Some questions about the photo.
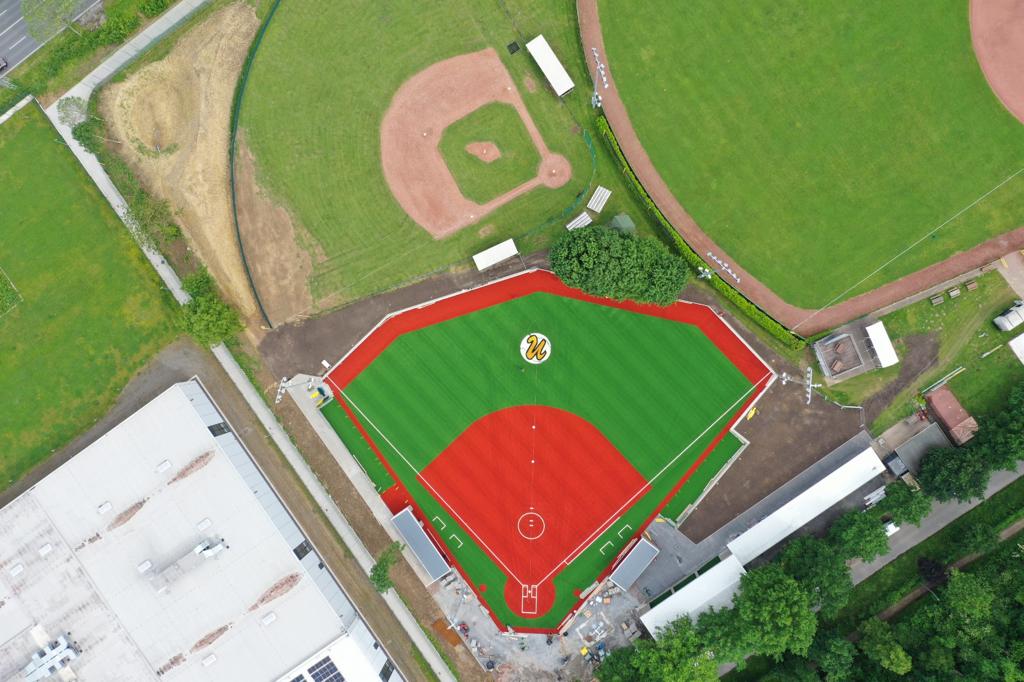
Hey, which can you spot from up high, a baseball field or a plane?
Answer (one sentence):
The image shows a baseball field.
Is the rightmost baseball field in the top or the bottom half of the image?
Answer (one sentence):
You can find the rightmost baseball field in the bottom half.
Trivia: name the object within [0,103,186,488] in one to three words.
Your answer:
sports field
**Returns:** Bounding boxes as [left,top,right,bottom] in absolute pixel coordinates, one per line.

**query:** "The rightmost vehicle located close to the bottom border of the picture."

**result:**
[580,647,601,665]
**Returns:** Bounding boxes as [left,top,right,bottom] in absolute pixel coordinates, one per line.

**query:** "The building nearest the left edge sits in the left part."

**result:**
[0,377,403,682]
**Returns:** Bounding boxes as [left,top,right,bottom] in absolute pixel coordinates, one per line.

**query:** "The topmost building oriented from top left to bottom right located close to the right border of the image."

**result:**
[919,387,978,445]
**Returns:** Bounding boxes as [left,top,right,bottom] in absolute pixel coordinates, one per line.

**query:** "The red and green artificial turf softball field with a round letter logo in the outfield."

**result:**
[319,271,772,632]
